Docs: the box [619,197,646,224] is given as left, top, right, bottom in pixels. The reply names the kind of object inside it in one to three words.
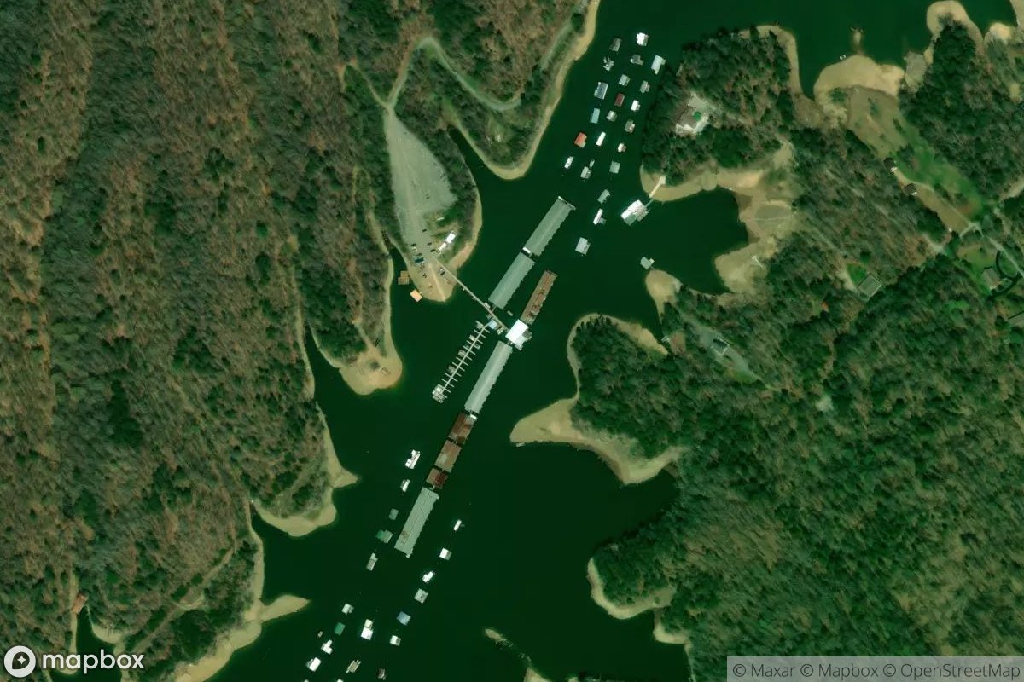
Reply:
building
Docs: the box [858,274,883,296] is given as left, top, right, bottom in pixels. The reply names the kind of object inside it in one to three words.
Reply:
house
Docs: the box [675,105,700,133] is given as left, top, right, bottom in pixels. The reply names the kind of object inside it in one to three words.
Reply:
house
